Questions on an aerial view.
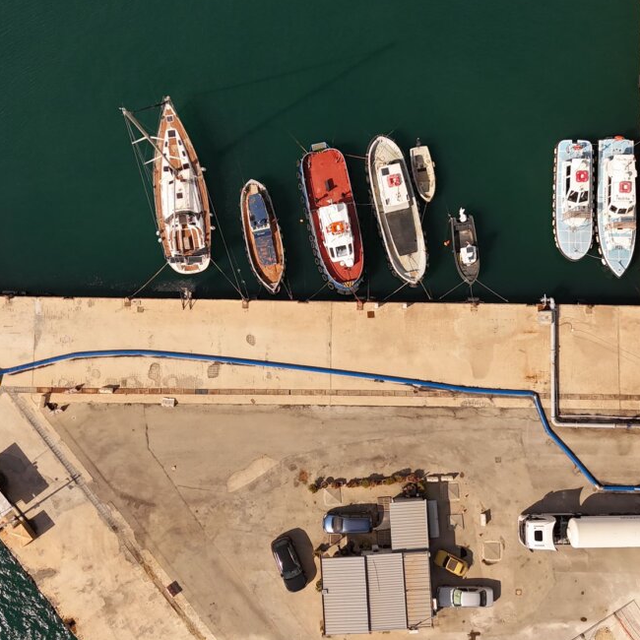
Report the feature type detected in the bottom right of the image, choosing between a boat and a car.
car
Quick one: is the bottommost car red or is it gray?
gray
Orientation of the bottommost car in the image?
from left to right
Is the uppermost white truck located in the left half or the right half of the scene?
right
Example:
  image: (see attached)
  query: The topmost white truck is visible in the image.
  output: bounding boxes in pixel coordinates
[518,513,640,554]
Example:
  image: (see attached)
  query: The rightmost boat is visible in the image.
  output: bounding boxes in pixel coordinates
[595,136,637,279]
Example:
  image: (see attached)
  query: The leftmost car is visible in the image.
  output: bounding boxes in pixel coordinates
[271,535,306,594]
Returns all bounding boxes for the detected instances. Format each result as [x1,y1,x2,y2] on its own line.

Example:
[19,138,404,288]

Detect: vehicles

[437,585,495,610]
[271,535,306,594]
[432,550,472,580]
[324,513,372,537]
[518,513,640,554]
